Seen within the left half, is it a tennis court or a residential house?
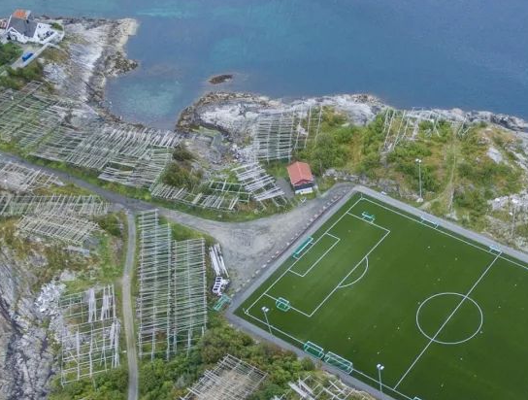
residential house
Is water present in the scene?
Yes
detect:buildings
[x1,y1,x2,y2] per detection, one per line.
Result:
[2,1,51,50]
[288,160,314,192]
